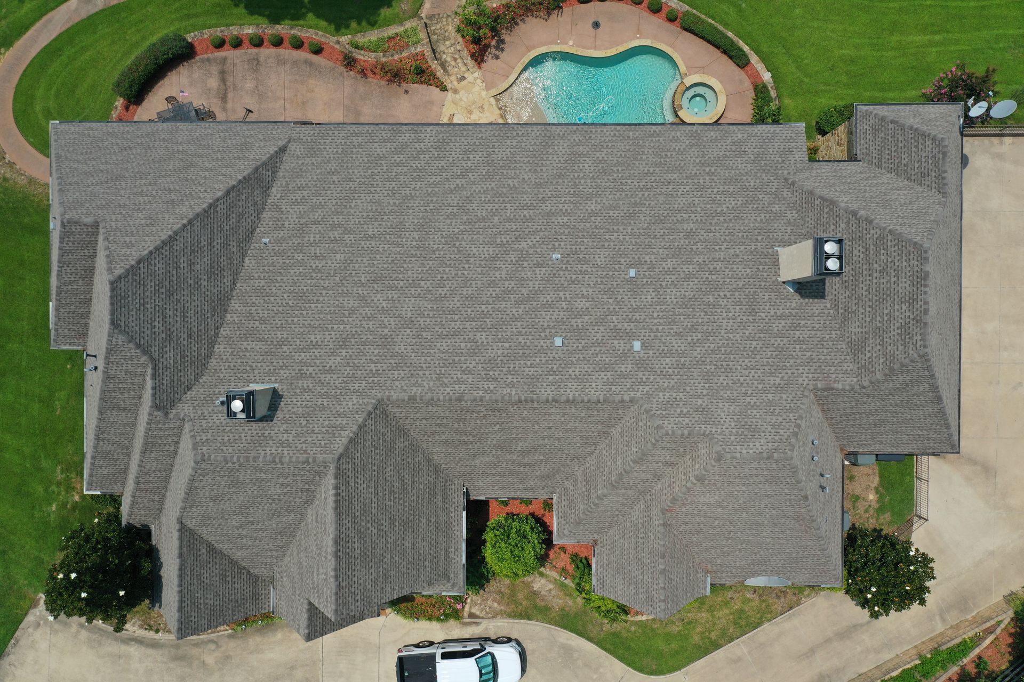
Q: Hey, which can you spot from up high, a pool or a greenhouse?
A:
pool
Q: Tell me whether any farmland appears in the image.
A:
No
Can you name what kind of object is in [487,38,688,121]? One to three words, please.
swimming pool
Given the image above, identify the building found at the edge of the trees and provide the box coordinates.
[46,101,964,643]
